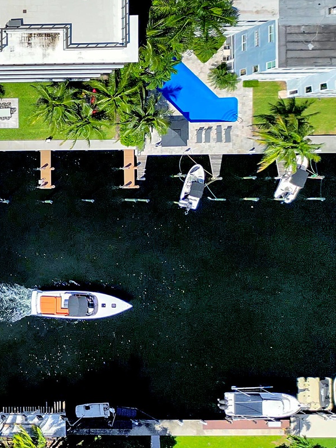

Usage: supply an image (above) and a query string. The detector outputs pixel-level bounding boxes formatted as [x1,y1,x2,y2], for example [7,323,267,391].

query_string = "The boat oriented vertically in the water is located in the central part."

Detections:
[179,164,204,218]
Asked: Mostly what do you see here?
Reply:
water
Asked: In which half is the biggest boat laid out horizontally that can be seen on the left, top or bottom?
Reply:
bottom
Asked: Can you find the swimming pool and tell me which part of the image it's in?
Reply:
top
